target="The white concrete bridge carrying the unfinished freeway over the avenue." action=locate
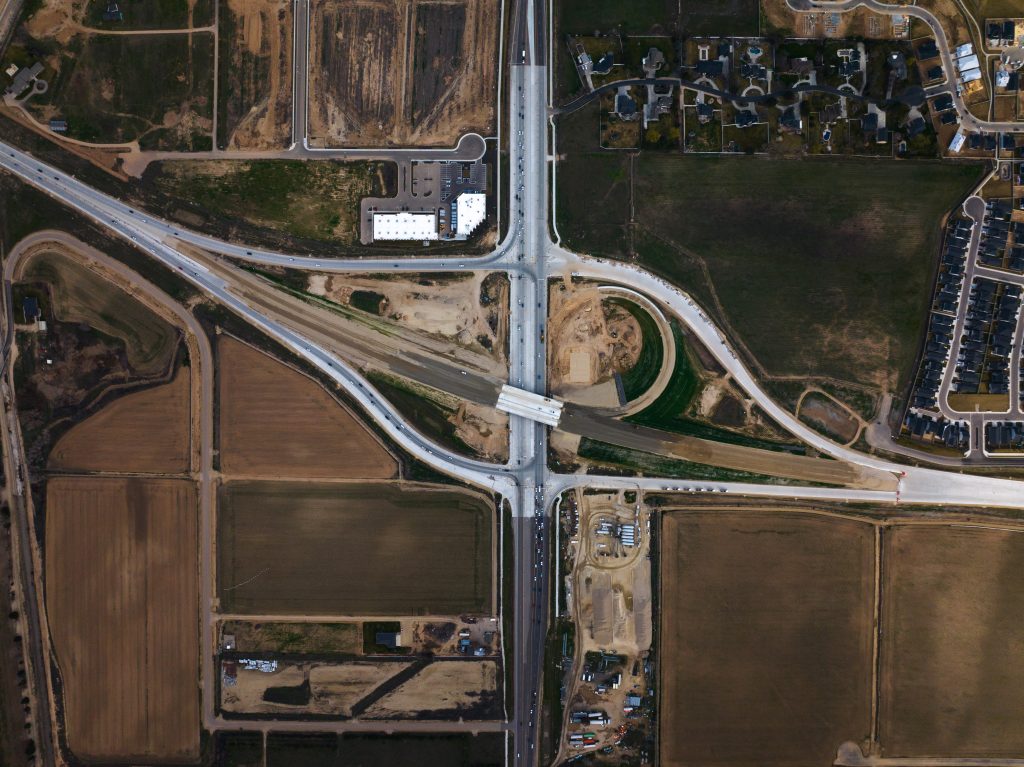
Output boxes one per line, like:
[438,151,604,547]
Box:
[496,376,564,434]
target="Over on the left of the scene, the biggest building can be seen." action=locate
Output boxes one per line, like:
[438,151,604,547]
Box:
[373,211,438,239]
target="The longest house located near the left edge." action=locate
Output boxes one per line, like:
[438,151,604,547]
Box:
[8,63,39,96]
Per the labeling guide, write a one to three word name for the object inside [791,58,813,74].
house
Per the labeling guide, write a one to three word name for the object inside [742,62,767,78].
house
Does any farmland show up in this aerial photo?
Yes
